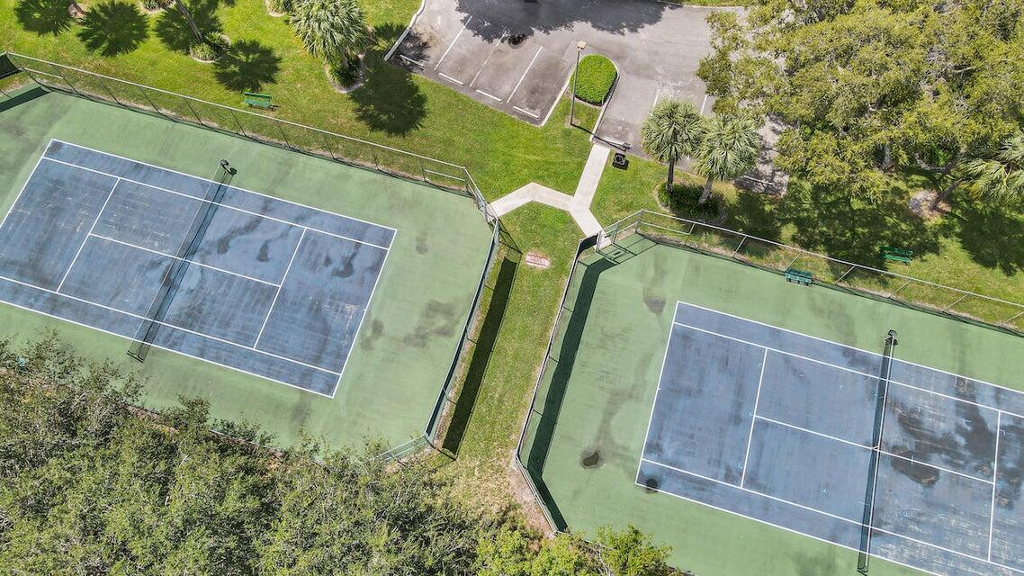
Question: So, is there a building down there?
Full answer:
No, this view has no building in it.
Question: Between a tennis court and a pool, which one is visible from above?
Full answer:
The one in the frame is a tennis court.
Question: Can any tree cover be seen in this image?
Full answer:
Yes, tree cover shows up in the scene.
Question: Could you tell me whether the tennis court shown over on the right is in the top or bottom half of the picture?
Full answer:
It is in the bottom half that the tennis court shown over on the right appears.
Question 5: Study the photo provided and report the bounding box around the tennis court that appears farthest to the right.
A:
[518,234,1024,576]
